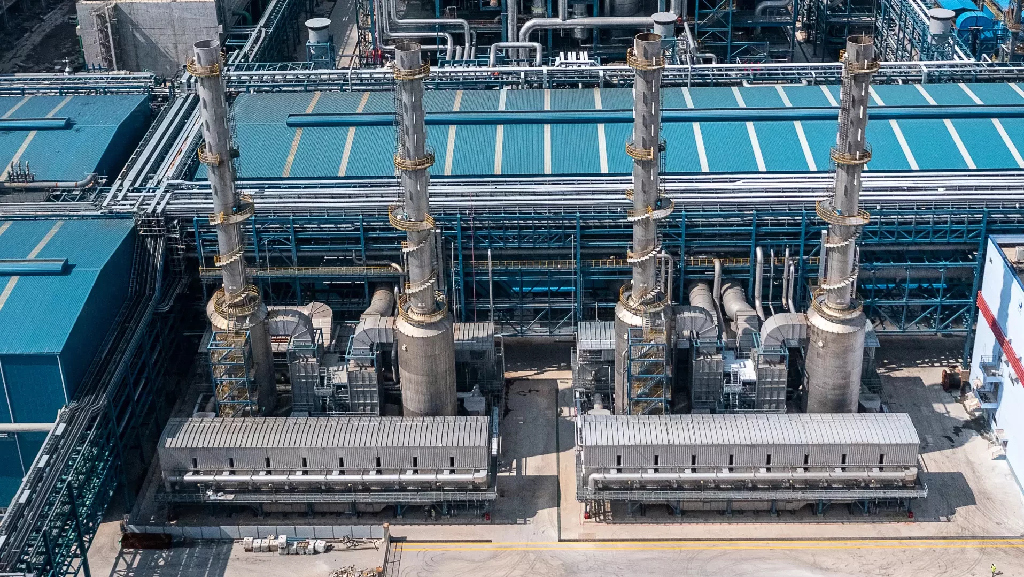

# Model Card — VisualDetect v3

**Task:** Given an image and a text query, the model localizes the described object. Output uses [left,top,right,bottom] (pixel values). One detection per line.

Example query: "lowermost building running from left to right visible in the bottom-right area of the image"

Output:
[576,408,933,515]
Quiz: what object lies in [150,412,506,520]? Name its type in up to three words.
building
